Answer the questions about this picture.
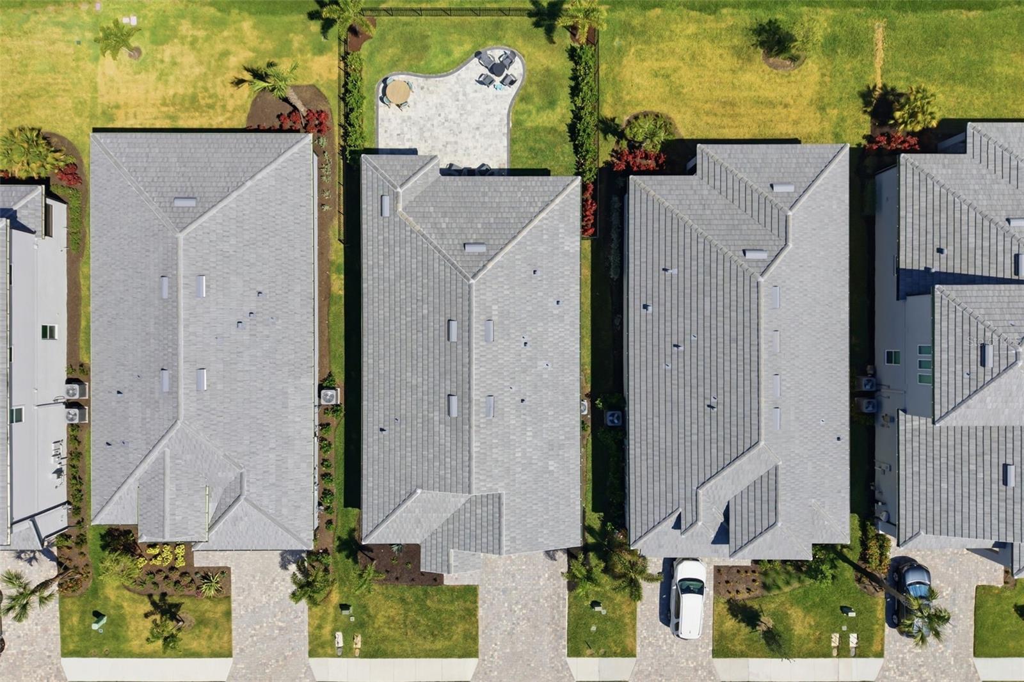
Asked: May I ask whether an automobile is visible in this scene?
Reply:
Yes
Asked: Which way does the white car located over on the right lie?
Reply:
vertically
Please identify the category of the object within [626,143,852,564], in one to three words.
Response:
house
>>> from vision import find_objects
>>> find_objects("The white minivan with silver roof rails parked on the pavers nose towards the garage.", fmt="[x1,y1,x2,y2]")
[667,556,709,640]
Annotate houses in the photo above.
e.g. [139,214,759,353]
[0,183,69,549]
[88,131,319,552]
[871,121,1024,581]
[626,143,852,564]
[359,153,583,576]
